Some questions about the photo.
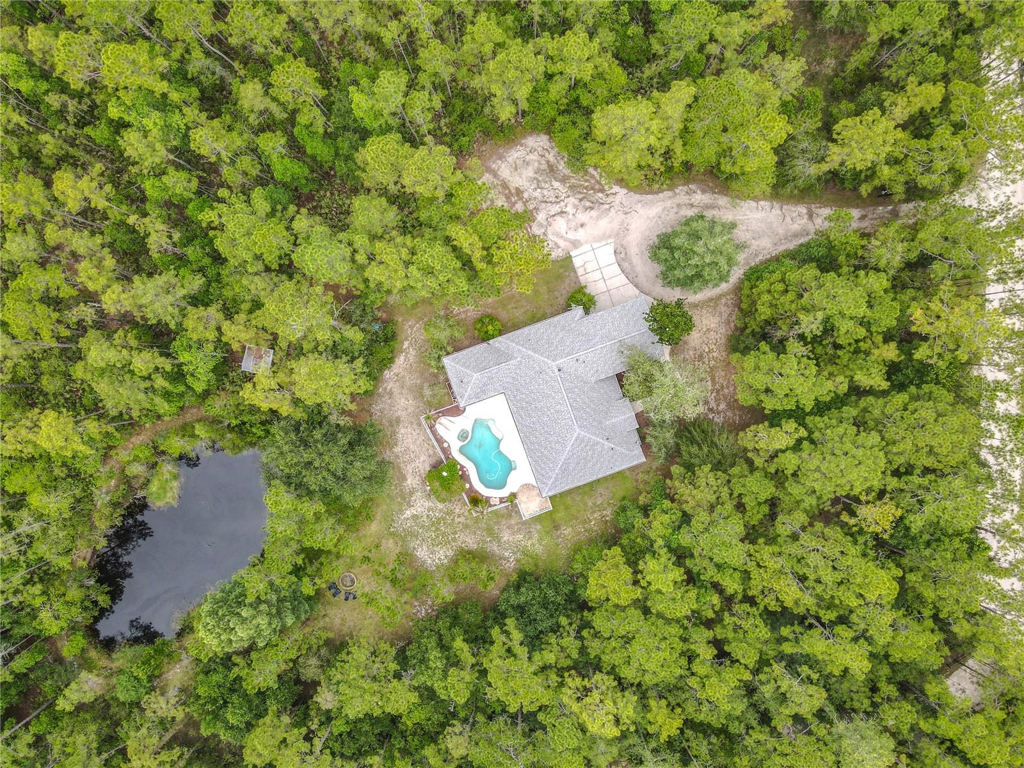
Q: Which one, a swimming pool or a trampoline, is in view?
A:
swimming pool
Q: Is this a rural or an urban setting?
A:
rural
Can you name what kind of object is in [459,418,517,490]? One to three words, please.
swimming pool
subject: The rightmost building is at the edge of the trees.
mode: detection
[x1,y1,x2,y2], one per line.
[442,293,667,499]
